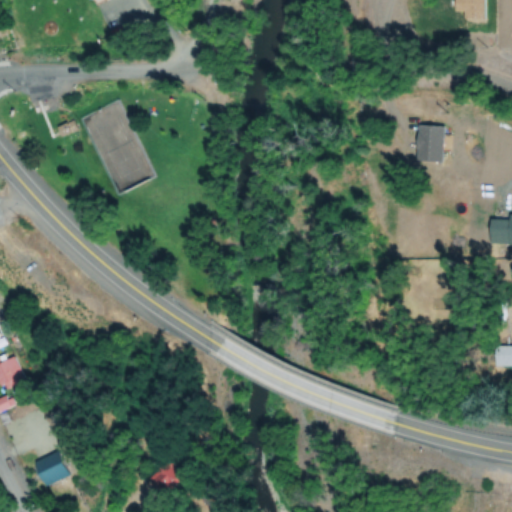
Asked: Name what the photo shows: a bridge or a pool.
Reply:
bridge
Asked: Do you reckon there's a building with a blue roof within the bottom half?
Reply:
Yes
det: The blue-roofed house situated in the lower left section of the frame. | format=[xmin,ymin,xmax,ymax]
[36,451,70,485]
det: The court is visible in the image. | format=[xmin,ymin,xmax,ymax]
[82,100,157,193]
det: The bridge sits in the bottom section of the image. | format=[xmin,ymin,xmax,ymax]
[214,332,401,436]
